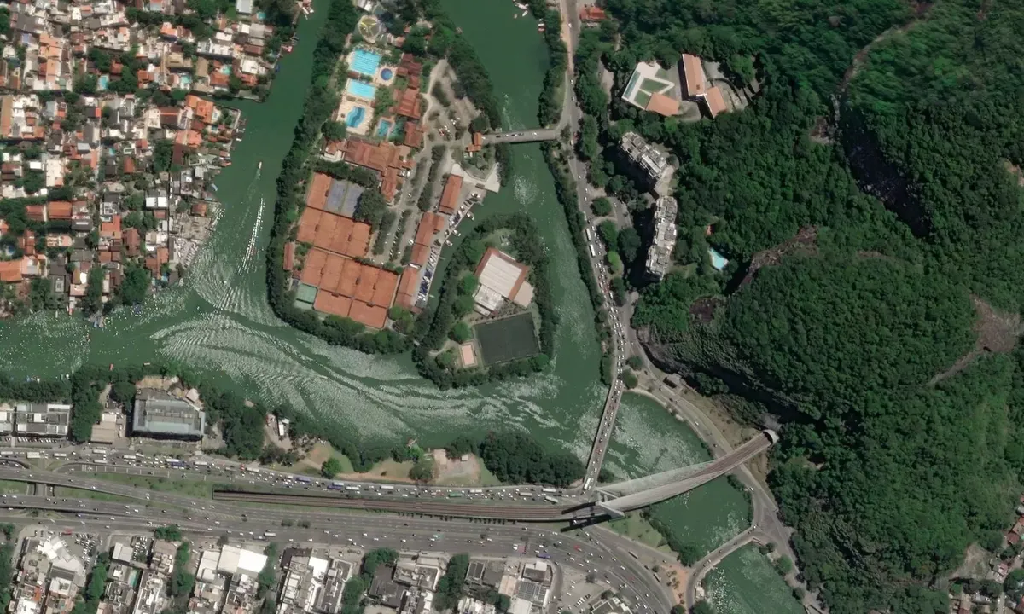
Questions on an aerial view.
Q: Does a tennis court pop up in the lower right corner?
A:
No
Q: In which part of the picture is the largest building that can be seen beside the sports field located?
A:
center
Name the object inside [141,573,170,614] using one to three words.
building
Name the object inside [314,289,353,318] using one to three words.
tennis court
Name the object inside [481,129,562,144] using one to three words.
bridge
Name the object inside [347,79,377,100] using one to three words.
swimming pool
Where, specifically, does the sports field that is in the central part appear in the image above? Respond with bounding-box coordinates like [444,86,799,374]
[476,313,540,365]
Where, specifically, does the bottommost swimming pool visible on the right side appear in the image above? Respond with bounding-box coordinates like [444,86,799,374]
[710,249,726,269]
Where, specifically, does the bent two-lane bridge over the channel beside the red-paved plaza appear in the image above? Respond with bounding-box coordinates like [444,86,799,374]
[683,524,763,614]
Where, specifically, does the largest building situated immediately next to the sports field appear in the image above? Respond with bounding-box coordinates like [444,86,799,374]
[475,247,530,303]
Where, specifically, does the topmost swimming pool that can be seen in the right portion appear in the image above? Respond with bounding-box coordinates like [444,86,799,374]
[623,70,641,99]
